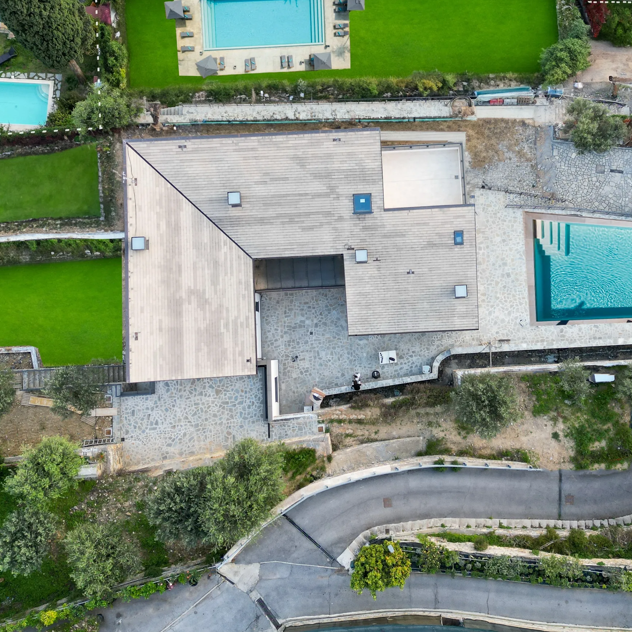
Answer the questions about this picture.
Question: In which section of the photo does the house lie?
center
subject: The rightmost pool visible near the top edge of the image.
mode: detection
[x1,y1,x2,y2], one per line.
[200,0,325,51]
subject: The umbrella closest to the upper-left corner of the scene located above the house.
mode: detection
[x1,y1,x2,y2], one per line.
[165,1,186,22]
